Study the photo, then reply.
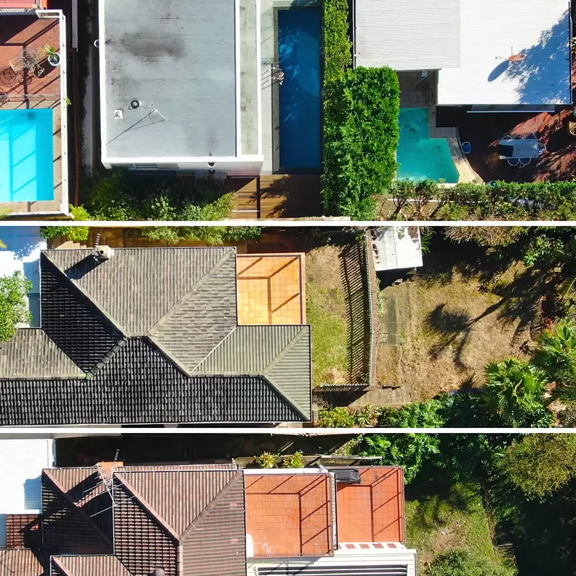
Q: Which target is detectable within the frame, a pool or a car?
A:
pool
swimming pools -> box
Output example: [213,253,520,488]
[393,105,482,185]
[0,102,61,210]
[272,1,324,174]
